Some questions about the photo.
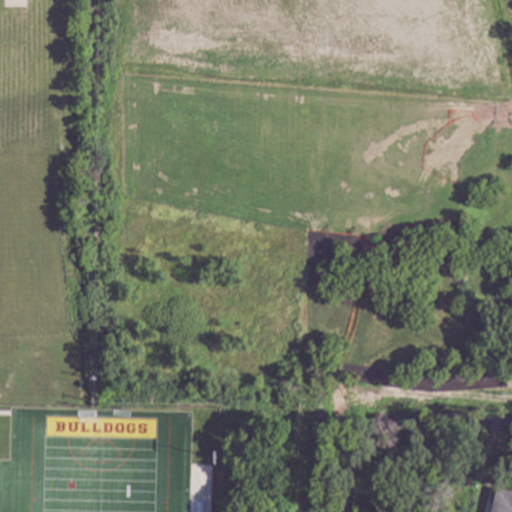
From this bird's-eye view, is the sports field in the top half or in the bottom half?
bottom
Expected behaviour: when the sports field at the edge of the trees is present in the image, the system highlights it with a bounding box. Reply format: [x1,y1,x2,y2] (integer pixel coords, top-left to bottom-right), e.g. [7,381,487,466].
[0,406,192,512]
